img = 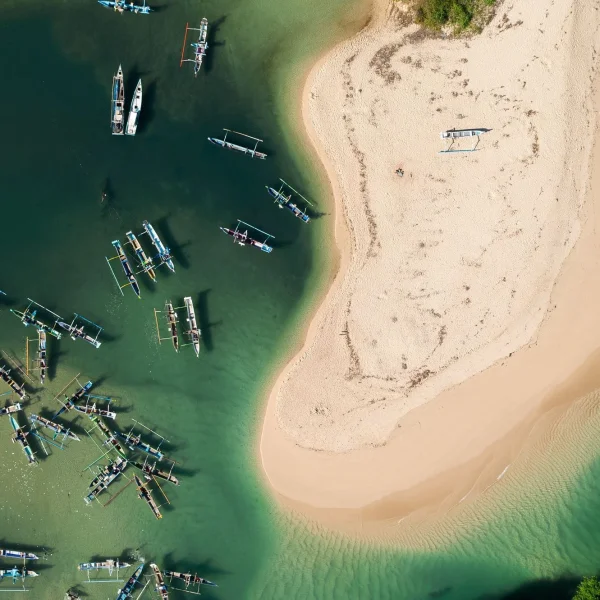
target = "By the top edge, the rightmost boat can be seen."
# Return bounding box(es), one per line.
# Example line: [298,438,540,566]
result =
[180,16,208,78]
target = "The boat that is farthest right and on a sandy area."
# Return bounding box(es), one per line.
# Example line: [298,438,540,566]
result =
[438,130,486,153]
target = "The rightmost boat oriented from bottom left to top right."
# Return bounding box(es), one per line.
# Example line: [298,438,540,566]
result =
[117,564,149,600]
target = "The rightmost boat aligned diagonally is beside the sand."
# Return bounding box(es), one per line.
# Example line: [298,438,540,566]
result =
[265,179,313,224]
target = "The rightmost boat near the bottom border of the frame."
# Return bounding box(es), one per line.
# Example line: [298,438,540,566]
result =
[163,570,219,595]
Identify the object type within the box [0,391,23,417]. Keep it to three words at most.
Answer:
boat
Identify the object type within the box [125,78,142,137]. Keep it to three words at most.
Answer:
boat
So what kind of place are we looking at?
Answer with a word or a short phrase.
beach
